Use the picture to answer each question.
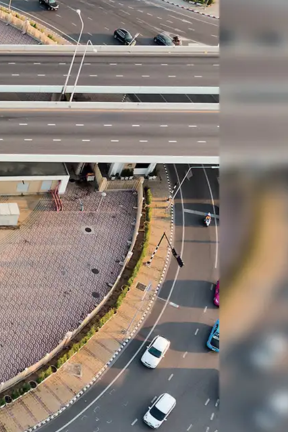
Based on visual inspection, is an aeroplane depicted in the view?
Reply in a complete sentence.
No, there appears to be no aeroplane in this shot.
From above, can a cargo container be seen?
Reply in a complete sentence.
No, no cargo container can be seen from above.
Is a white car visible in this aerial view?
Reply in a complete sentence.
Yes, a white car appears in the view.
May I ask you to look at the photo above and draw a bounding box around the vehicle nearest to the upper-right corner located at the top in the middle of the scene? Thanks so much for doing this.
[152,34,177,46]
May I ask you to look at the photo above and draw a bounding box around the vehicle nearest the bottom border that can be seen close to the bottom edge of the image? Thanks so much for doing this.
[145,393,177,427]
